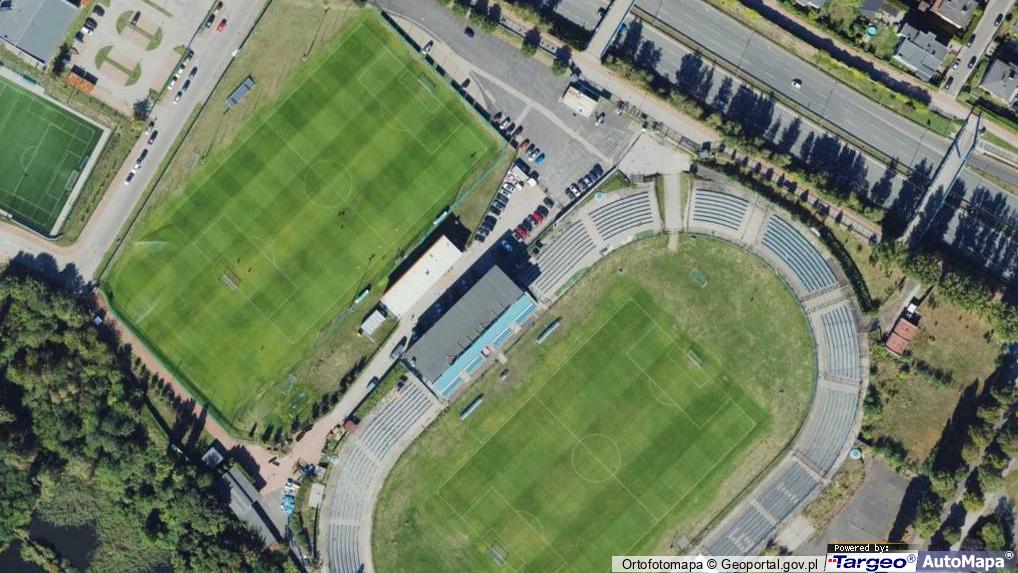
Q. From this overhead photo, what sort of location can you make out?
sports ground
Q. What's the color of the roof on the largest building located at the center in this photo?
white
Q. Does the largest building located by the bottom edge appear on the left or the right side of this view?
left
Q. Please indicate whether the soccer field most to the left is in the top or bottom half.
top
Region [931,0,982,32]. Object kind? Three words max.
house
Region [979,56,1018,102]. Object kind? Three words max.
house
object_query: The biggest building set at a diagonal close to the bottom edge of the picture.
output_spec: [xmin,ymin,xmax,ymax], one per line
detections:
[217,471,276,551]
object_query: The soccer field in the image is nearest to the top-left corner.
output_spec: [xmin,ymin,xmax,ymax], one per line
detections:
[0,60,110,238]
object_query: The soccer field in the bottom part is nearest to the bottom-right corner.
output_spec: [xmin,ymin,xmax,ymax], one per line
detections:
[372,232,817,573]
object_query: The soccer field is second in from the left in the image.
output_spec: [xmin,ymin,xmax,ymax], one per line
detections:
[102,6,507,431]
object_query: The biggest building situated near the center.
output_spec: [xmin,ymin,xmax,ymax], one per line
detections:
[380,236,463,318]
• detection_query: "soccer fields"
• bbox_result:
[102,6,507,431]
[0,60,110,238]
[372,232,817,573]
